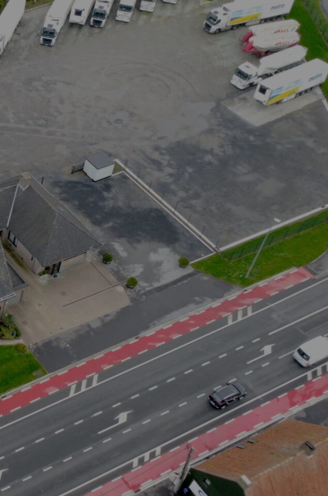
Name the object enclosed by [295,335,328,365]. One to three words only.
van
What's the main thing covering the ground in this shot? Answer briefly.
paved ground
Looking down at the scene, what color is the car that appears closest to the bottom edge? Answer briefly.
black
